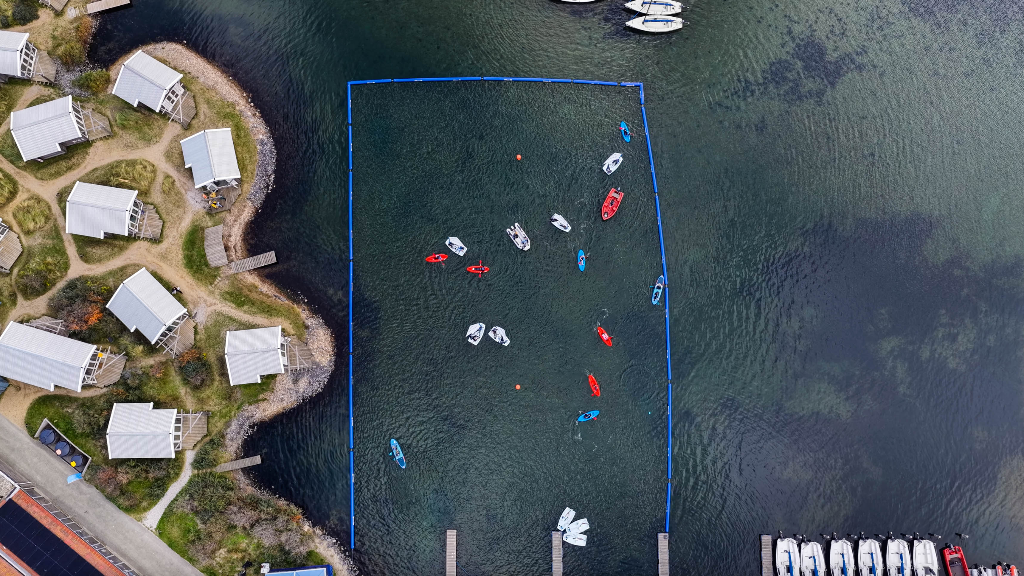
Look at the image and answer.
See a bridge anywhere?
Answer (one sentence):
No, I find no bridge anywhere in the image.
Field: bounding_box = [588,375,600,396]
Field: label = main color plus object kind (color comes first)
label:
red boat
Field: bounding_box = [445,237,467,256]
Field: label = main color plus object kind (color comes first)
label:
white boat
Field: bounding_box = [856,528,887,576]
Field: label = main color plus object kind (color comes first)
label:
white boat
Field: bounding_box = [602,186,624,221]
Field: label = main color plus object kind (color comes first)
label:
red boat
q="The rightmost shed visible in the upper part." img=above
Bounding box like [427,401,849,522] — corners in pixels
[180,128,250,217]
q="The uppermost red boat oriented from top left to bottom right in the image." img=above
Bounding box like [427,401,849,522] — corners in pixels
[597,327,612,347]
